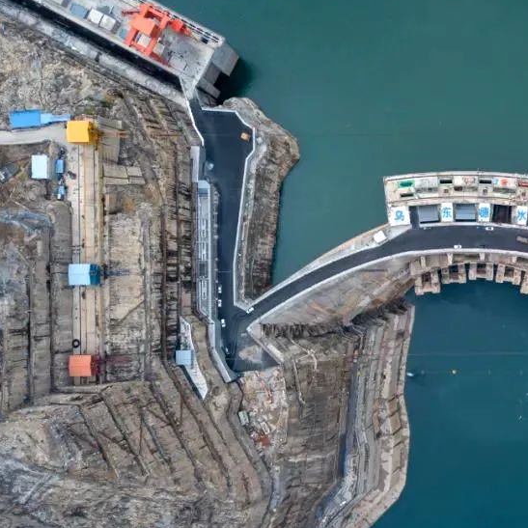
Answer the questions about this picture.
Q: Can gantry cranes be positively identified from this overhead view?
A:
Yes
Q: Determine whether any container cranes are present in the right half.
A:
No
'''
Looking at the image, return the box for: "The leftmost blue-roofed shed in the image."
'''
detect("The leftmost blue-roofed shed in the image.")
[9,109,45,130]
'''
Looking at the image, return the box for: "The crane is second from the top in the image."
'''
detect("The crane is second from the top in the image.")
[67,120,143,144]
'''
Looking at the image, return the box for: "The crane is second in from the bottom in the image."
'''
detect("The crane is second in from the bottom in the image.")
[67,263,143,286]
